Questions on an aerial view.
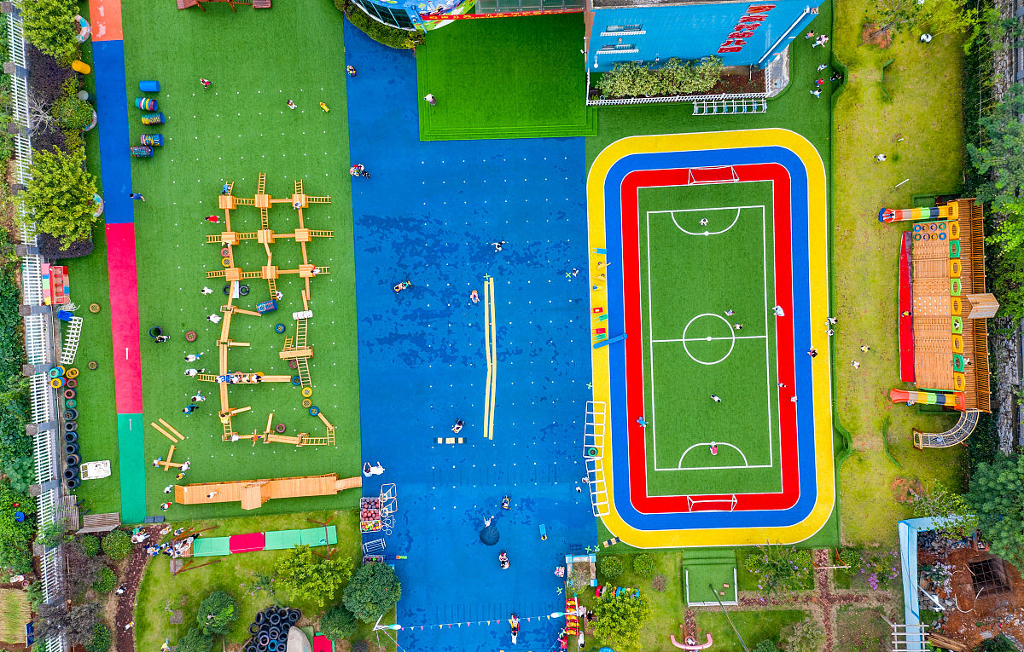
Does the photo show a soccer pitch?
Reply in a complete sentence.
Yes, a soccer pitch appears in the view.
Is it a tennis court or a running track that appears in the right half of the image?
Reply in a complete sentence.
What appears in the right half of the image is a running track.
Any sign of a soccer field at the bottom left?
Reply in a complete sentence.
No, there is no soccer field at the bottom left.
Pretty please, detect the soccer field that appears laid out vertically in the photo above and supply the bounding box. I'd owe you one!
[639,181,782,496]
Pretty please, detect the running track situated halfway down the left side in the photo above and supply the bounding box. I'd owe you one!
[89,0,145,523]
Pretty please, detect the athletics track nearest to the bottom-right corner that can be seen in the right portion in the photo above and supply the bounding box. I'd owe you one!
[586,127,835,550]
